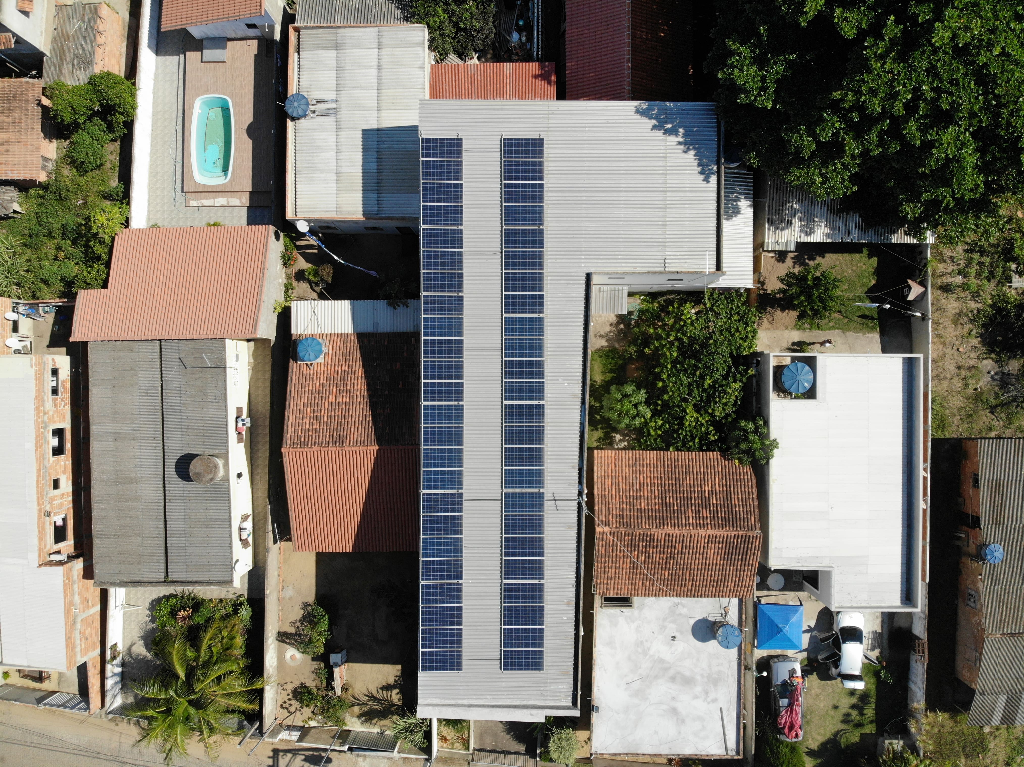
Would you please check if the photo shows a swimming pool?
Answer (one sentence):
Yes, this view includes a swimming pool.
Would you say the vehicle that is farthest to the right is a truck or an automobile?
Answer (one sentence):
The vehicle that is farthest to the right can be classified as an automobile.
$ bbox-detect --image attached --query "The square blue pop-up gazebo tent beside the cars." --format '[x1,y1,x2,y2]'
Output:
[756,594,802,650]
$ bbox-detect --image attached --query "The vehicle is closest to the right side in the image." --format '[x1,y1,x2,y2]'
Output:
[812,611,882,697]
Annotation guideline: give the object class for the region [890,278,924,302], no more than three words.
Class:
shed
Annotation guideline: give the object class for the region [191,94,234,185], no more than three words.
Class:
swimming pool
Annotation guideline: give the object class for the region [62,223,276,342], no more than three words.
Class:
house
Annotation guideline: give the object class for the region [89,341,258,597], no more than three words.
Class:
house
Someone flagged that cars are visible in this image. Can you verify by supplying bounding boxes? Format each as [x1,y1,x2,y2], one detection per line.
[763,653,809,741]
[812,611,882,697]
